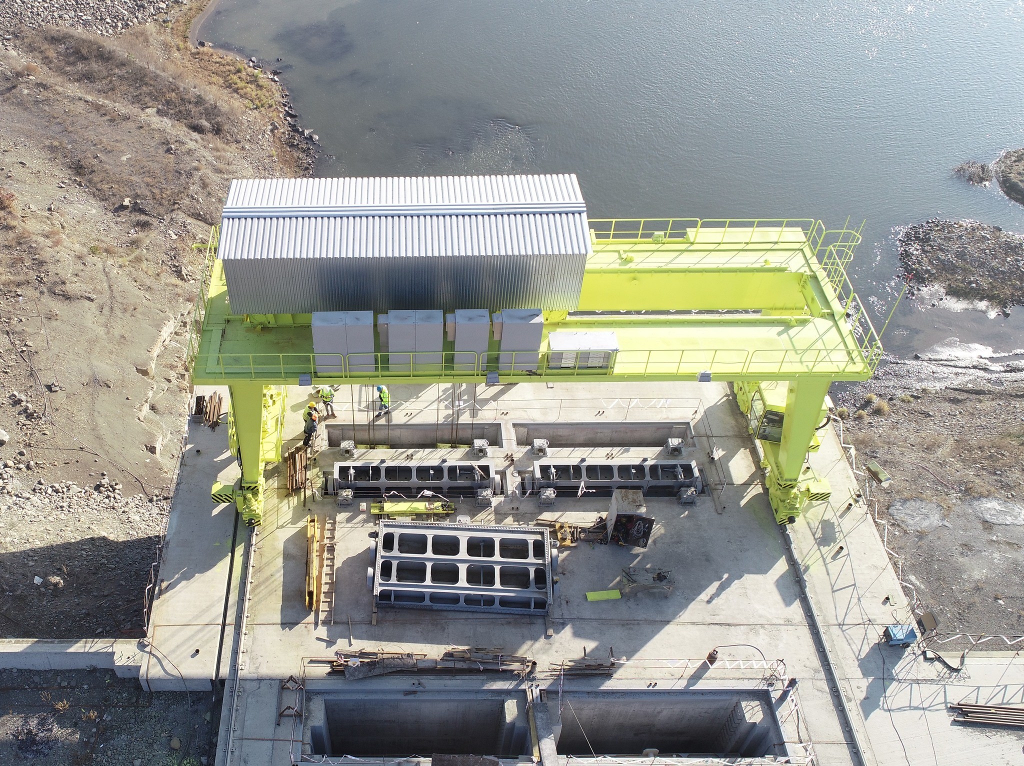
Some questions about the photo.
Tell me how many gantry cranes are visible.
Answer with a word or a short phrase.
1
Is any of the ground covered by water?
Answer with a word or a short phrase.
Yes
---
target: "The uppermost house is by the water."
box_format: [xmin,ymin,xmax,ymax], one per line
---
[219,174,594,326]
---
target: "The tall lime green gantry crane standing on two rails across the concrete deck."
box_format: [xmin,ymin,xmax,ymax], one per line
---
[190,225,881,541]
